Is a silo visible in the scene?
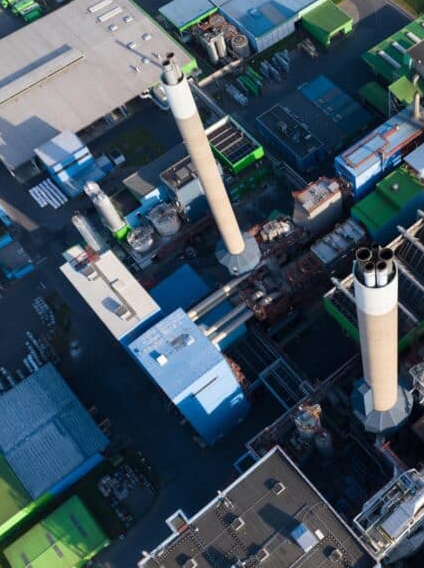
Yes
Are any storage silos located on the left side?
Yes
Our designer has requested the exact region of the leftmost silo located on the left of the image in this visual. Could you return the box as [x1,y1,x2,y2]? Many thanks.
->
[67,213,104,254]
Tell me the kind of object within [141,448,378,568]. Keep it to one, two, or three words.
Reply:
building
